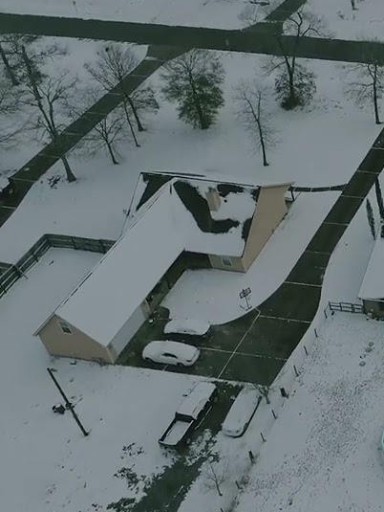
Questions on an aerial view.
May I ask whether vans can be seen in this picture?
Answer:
Yes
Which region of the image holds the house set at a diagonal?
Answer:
center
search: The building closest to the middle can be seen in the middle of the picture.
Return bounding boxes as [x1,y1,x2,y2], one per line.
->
[33,175,298,362]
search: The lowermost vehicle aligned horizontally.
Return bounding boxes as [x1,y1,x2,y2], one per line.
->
[139,341,202,370]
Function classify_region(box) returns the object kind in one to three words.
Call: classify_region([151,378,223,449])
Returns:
truck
